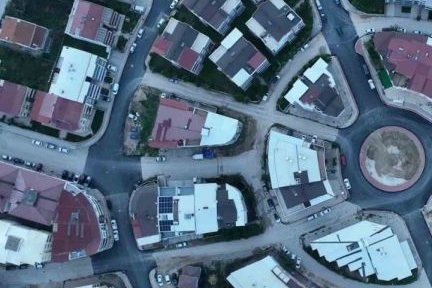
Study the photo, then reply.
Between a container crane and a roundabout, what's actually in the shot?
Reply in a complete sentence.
It is a roundabout that can be seen here.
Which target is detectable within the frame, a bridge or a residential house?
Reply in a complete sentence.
Visible in the photo is a residential house.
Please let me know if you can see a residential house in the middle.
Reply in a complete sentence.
Yes, a residential house is visible in the middle.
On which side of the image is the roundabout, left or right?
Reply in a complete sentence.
The roundabout appears in the right half of the scene.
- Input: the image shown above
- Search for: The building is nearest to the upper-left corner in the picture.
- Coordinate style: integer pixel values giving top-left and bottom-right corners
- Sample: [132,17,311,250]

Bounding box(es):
[0,15,54,51]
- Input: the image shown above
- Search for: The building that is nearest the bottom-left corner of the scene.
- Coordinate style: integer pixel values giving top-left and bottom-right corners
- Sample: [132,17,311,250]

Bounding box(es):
[0,216,51,266]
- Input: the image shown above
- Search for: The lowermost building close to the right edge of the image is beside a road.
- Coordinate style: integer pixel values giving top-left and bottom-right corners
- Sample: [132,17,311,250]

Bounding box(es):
[309,218,417,282]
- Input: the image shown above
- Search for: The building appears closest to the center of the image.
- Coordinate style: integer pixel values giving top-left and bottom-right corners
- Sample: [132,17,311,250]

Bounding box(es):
[200,112,243,147]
